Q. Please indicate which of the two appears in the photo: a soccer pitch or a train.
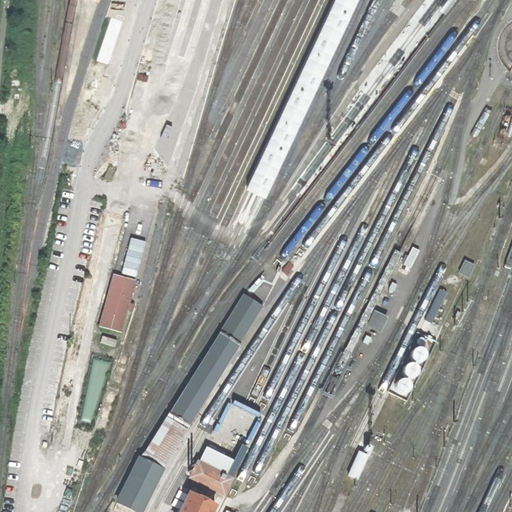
train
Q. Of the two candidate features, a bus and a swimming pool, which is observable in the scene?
bus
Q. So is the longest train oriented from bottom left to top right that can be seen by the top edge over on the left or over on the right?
right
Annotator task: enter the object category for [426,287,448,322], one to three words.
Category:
building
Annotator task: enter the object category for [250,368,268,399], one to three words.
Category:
vehicle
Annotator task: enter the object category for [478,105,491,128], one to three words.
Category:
rail car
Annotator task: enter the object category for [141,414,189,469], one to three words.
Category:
shed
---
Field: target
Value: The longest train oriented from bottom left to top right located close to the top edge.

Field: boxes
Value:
[394,24,477,131]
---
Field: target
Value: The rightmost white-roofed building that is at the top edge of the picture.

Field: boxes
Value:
[247,0,360,198]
